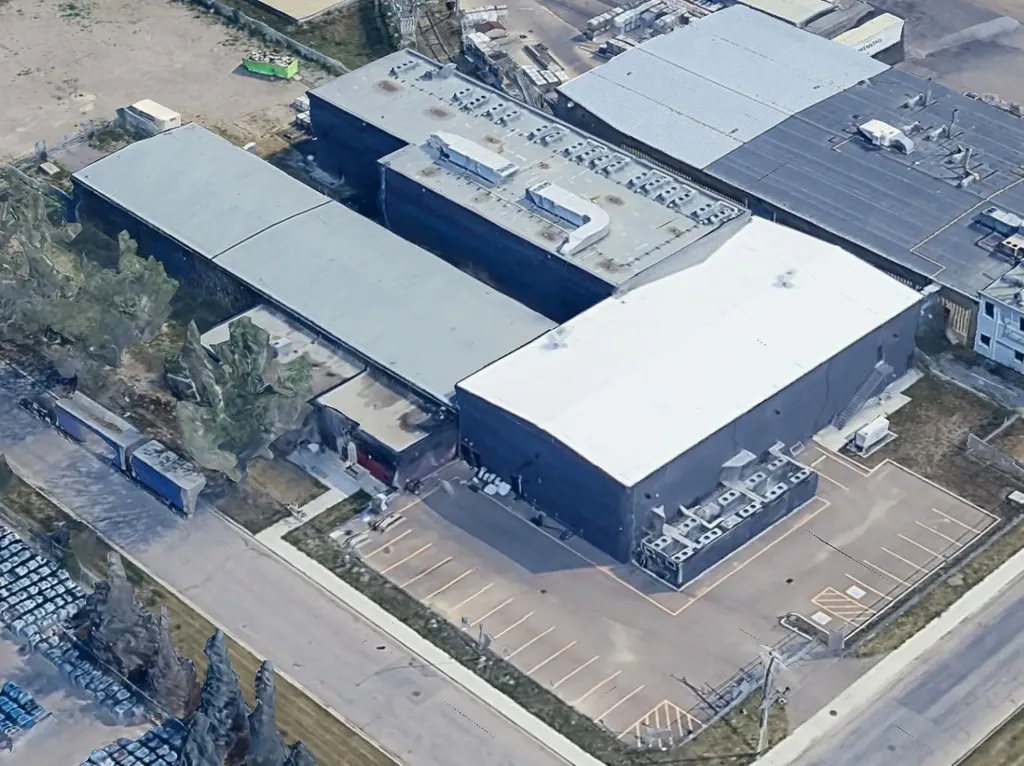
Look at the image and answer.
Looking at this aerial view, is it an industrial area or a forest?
industrial area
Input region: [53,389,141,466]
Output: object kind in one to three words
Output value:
trailer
